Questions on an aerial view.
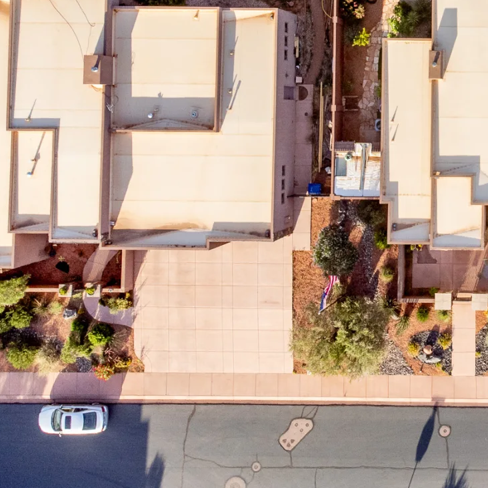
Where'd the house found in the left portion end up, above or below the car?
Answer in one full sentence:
You can see the house found in the left portion above the car in the frame.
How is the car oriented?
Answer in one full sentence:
The car is laid out horizontally.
